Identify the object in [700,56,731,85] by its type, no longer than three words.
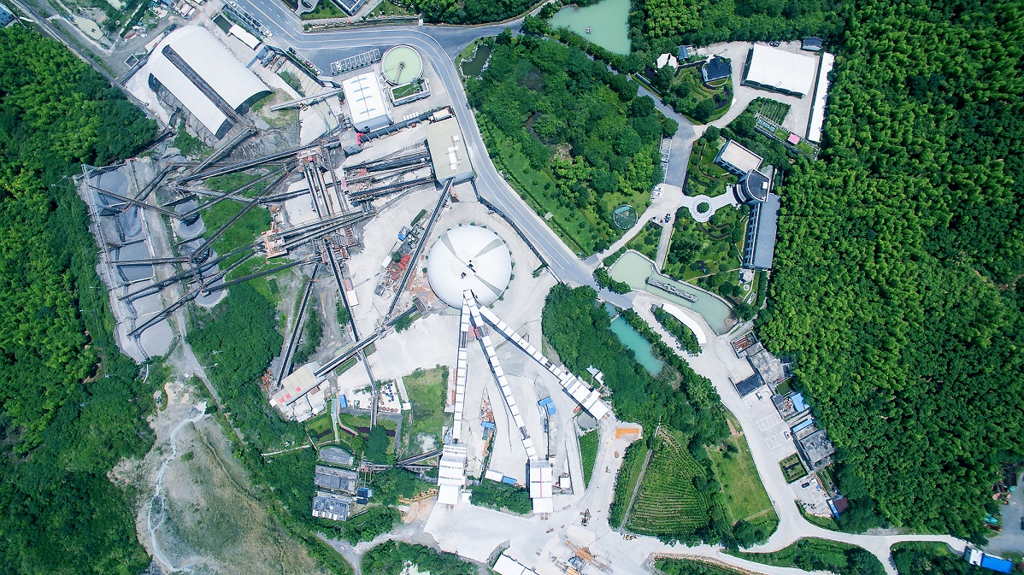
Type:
building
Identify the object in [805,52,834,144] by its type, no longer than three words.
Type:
shed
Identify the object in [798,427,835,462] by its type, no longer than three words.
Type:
house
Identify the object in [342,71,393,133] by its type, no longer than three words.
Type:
building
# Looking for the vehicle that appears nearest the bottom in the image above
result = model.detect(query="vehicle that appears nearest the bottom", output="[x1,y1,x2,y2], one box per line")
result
[568,556,587,573]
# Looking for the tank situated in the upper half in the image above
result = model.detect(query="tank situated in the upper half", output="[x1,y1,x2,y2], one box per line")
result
[380,41,424,85]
